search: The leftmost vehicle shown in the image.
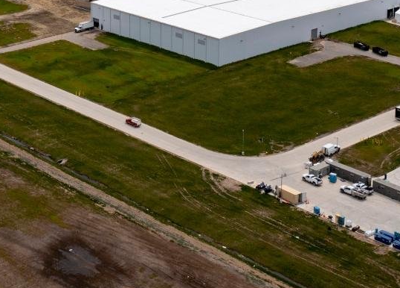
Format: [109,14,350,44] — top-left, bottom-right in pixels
[73,19,97,33]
